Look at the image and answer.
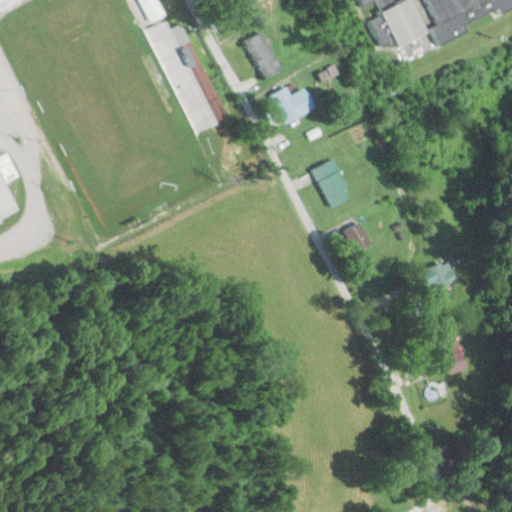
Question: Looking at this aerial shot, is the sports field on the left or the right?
left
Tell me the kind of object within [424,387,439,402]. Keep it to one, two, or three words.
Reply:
swimming pool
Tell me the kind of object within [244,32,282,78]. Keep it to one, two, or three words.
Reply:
house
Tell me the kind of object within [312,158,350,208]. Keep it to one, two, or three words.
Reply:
house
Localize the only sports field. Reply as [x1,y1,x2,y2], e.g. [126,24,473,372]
[0,0,219,241]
